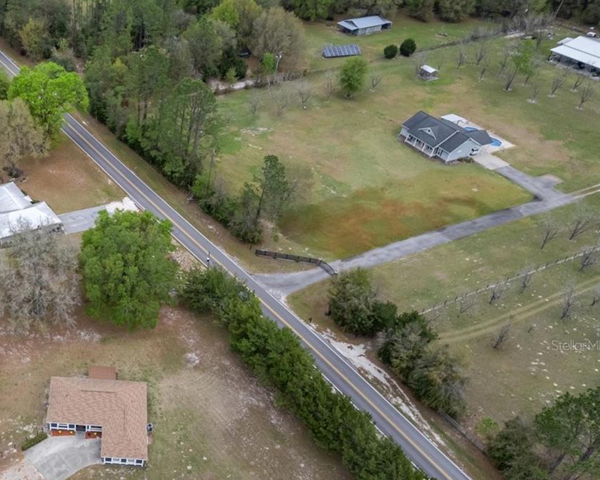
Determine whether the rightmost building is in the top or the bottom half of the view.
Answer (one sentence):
It is in the top half that the rightmost building appears.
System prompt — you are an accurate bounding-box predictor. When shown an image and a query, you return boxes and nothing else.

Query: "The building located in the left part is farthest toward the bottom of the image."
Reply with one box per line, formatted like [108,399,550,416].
[46,370,149,467]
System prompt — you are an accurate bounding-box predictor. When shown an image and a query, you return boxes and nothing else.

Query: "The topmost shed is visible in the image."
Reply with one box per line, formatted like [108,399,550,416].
[336,15,393,36]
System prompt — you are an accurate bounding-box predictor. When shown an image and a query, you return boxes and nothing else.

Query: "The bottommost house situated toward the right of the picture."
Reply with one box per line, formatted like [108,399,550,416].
[399,110,493,161]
